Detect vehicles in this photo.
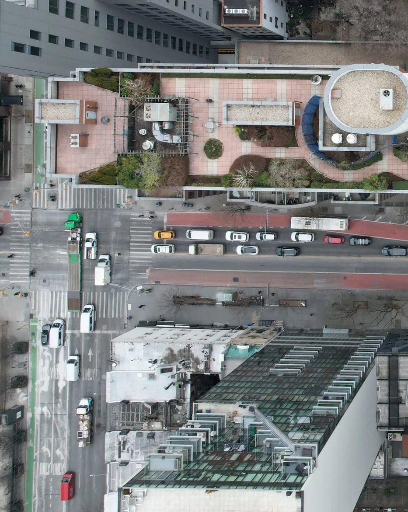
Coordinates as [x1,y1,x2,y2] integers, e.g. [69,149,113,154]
[94,255,110,286]
[237,245,259,255]
[68,357,80,380]
[256,232,278,241]
[290,217,348,230]
[39,324,50,346]
[152,244,174,254]
[49,319,65,348]
[278,246,299,256]
[82,306,95,329]
[60,472,75,503]
[190,243,221,256]
[78,400,93,449]
[229,232,249,242]
[84,233,97,258]
[350,236,371,246]
[385,246,406,256]
[65,210,82,309]
[325,235,343,244]
[187,230,214,240]
[154,230,175,240]
[293,232,314,242]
